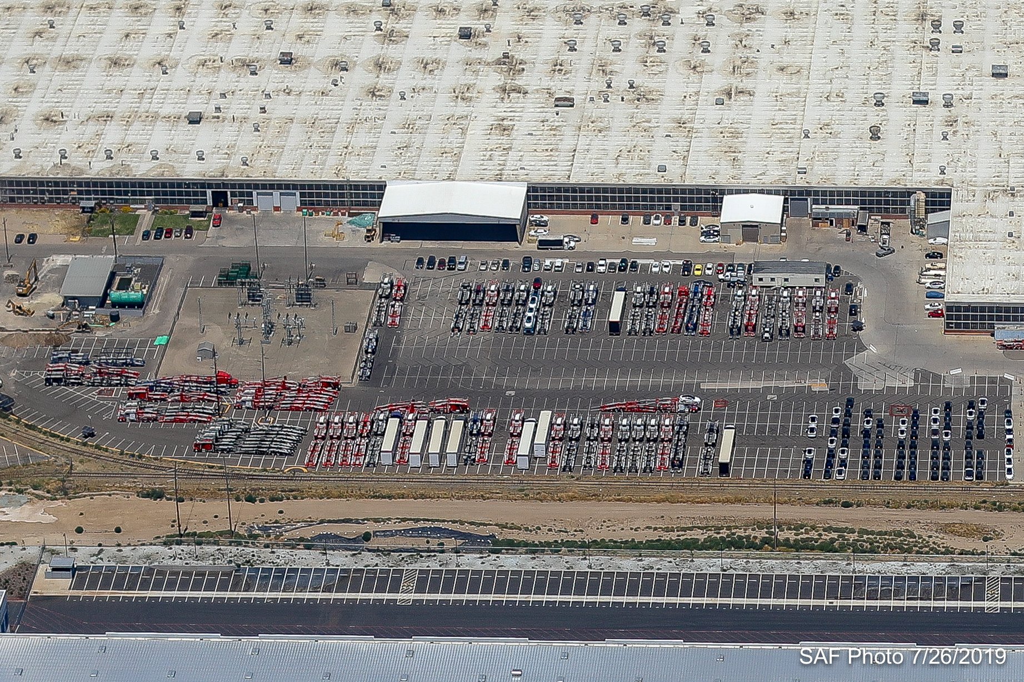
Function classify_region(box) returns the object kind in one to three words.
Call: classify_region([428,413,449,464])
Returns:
truck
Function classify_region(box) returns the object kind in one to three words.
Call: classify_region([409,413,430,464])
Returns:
truck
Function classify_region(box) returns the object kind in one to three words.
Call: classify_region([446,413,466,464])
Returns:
vehicle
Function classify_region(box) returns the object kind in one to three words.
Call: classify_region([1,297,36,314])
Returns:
work vehicle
